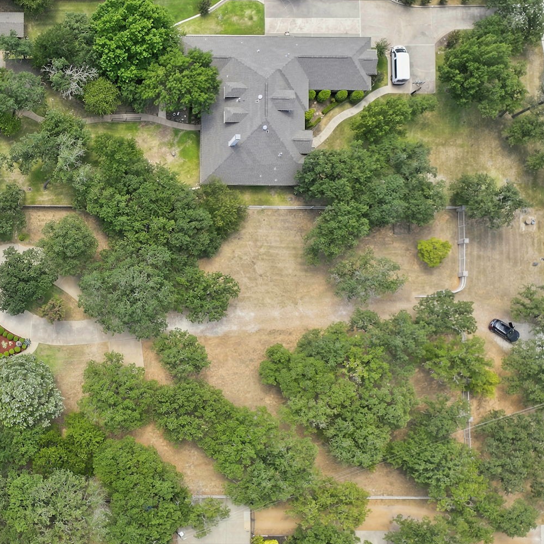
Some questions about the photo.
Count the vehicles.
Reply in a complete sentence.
Altogether the scene contains 2 vehicles.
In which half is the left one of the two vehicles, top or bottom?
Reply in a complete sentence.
Seen from above, the left one of the two vehicles lies in the top half of the view.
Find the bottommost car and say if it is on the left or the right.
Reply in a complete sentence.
The bottommost car appears in the right half of the scene.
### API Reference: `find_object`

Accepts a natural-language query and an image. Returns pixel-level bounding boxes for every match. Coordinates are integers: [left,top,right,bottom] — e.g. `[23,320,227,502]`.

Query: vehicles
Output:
[390,44,412,87]
[485,318,522,341]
